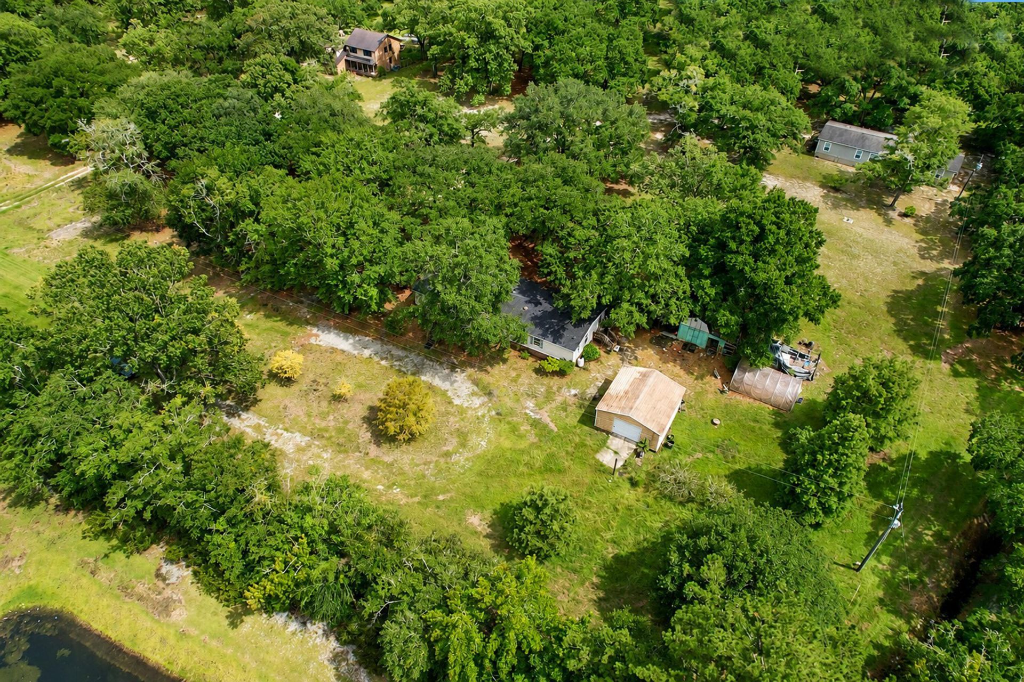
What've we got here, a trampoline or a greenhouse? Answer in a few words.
greenhouse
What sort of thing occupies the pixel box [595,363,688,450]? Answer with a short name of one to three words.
building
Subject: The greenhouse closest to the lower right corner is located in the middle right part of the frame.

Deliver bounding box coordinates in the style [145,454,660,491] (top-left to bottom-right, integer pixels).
[730,360,802,412]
